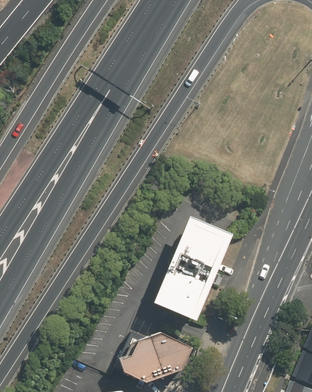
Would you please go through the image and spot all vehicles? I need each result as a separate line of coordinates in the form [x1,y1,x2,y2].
[184,68,199,86]
[72,362,86,372]
[259,264,270,280]
[220,266,234,276]
[137,379,144,392]
[11,124,24,138]
[148,380,161,392]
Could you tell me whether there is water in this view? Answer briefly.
No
